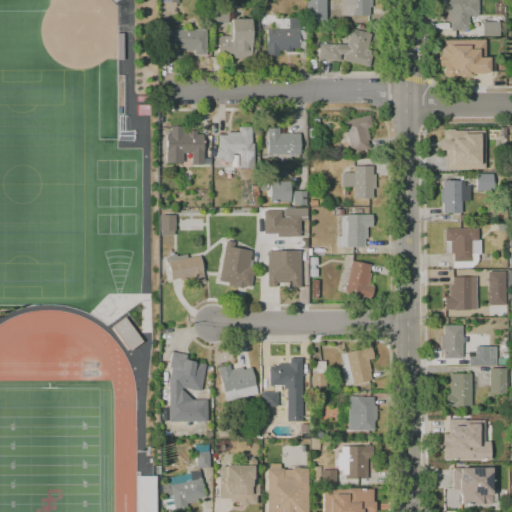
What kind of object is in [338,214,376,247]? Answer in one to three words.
house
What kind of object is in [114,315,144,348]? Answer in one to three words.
building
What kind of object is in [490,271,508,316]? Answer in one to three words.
building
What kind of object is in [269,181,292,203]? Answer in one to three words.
house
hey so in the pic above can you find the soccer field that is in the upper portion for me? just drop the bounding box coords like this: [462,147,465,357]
[0,0,143,313]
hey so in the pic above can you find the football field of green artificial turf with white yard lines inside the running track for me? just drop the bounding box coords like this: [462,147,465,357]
[0,380,114,512]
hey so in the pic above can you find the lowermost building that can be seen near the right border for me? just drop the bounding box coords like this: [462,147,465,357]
[456,468,497,508]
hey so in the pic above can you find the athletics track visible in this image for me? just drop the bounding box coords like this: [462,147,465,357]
[0,310,137,512]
